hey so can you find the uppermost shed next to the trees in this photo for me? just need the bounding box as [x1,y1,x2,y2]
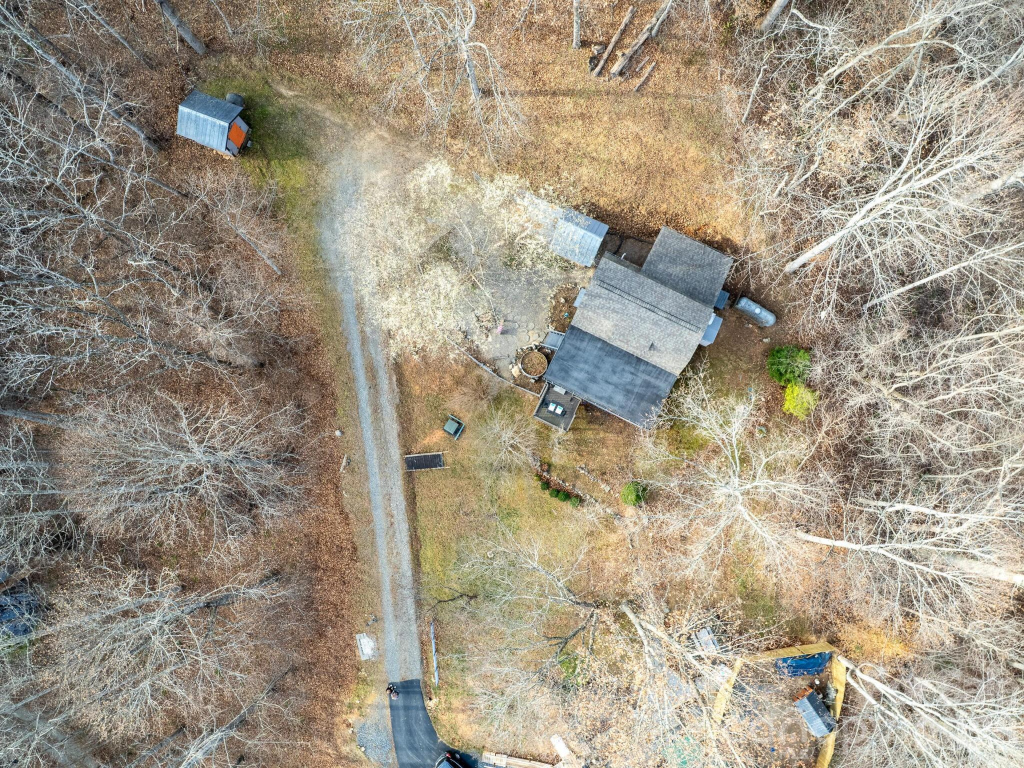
[177,90,255,159]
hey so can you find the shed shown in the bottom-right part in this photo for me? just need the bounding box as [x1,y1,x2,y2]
[784,678,837,737]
